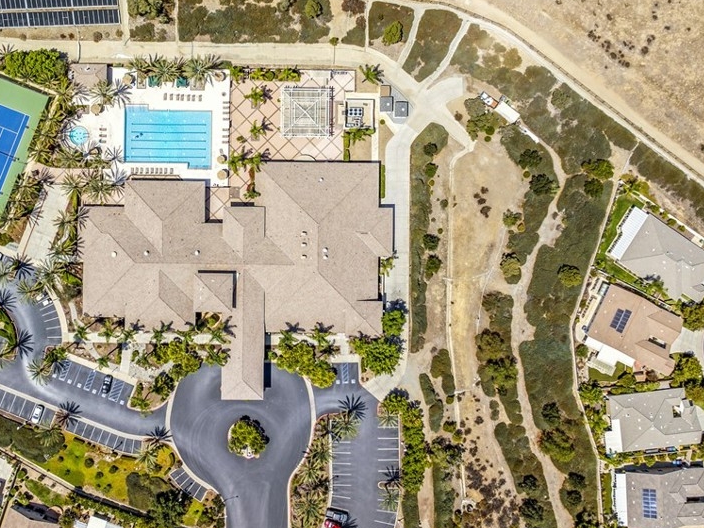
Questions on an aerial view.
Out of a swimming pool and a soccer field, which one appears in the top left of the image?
swimming pool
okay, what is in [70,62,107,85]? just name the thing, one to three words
building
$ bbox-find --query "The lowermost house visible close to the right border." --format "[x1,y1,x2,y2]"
[610,465,704,528]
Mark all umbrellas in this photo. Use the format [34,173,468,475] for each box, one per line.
[217,154,226,164]
[91,103,102,115]
[214,71,225,82]
[123,74,133,84]
[217,168,229,180]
